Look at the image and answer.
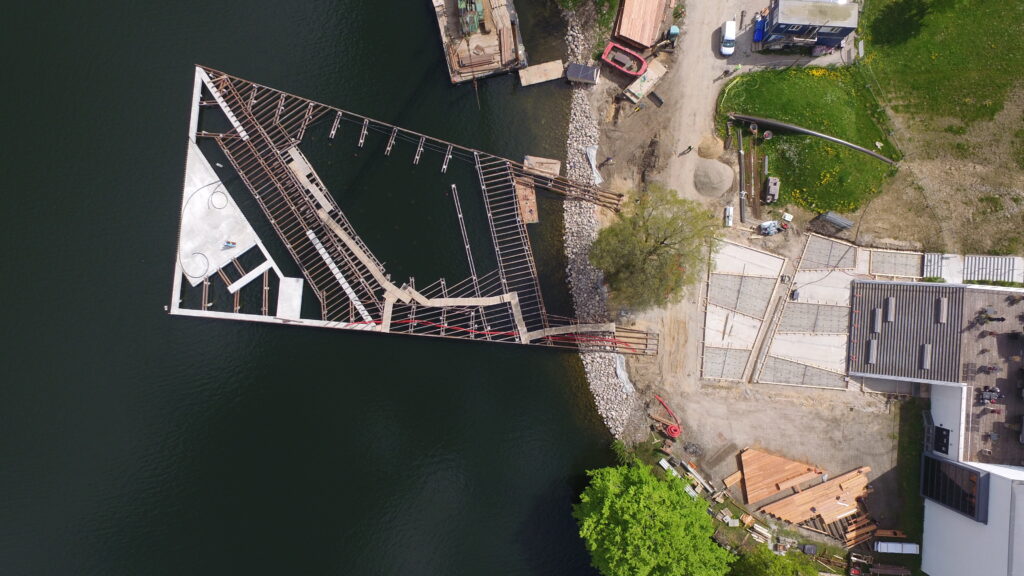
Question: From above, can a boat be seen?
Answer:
Yes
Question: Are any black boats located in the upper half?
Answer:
No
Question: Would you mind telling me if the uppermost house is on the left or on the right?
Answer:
right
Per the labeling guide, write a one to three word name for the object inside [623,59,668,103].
trailer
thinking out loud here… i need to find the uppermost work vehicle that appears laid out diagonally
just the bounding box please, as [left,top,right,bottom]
[643,26,683,61]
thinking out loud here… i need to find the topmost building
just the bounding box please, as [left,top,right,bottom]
[763,0,860,51]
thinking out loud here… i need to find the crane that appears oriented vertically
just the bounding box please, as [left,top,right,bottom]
[455,0,487,109]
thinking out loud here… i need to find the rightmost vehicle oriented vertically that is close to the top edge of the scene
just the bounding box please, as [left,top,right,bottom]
[719,20,738,59]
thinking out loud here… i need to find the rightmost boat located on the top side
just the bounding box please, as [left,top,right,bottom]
[602,43,647,76]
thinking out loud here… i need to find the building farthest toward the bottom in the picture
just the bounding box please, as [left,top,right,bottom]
[920,450,1024,576]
